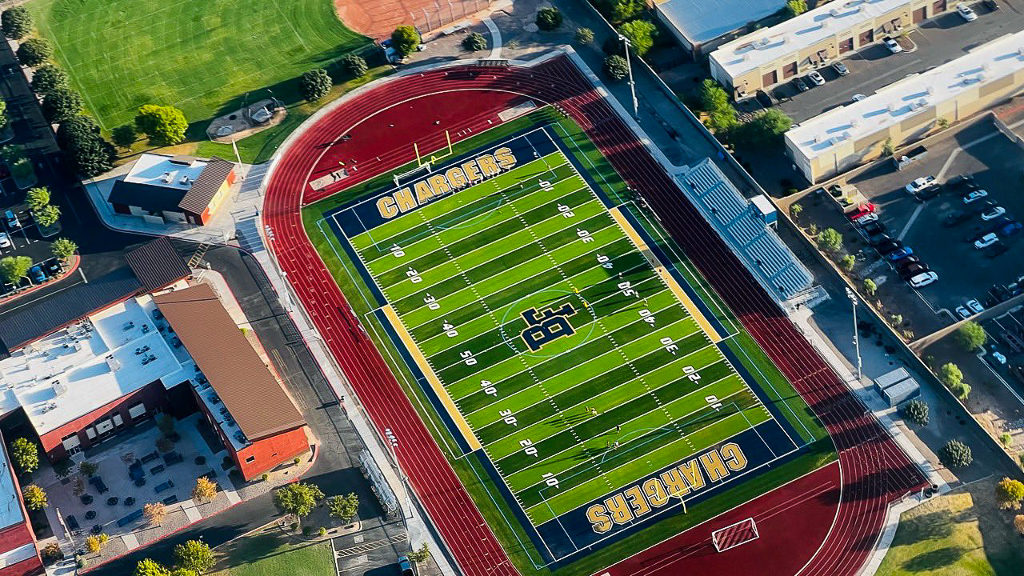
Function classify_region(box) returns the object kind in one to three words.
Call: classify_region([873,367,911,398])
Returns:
shipping container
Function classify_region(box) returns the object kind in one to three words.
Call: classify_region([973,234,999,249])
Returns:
car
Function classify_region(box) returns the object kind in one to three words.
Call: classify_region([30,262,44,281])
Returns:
car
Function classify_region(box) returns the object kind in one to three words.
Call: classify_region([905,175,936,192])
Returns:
vehicle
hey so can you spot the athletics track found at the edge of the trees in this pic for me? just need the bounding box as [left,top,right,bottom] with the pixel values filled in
[261,55,930,576]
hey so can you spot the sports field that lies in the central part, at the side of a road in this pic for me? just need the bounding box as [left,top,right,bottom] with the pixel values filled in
[301,105,839,576]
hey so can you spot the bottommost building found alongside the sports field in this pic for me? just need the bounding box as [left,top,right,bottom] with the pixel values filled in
[0,236,311,482]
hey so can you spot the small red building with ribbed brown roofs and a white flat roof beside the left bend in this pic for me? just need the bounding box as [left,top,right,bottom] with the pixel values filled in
[106,151,236,225]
